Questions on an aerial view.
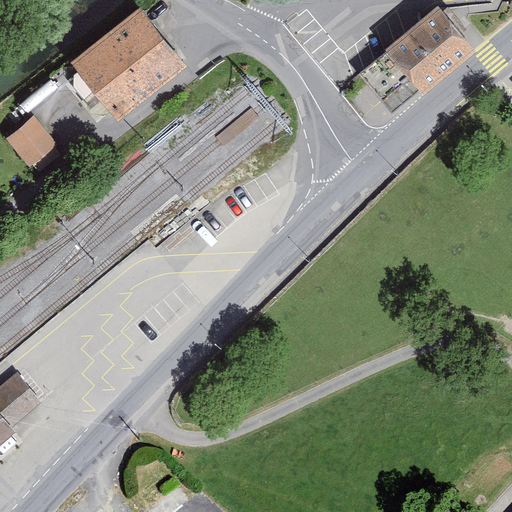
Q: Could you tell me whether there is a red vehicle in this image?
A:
Yes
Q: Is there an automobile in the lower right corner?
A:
No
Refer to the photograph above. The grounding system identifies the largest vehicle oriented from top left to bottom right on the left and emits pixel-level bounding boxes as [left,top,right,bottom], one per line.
[190,218,217,246]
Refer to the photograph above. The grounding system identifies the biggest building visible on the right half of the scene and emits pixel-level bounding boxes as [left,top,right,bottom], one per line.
[386,4,478,94]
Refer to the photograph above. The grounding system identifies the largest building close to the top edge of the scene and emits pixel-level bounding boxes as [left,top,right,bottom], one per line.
[70,6,187,121]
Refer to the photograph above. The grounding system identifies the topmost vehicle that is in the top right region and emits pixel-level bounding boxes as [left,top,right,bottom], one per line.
[368,36,384,58]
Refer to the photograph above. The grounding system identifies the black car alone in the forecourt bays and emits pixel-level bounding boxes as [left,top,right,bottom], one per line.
[138,320,157,340]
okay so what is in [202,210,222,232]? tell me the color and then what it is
gray car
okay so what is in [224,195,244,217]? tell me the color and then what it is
red car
